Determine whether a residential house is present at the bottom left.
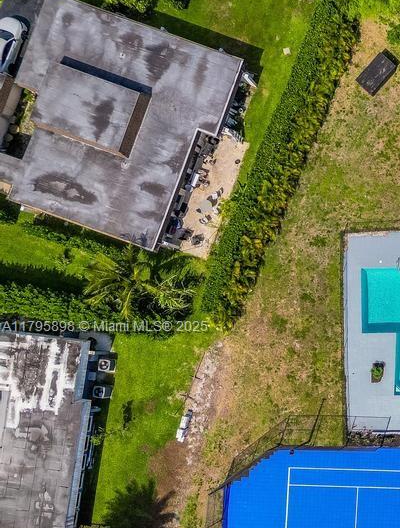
Yes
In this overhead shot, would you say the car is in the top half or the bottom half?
top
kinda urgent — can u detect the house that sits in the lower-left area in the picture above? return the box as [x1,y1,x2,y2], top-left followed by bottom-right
[0,334,99,528]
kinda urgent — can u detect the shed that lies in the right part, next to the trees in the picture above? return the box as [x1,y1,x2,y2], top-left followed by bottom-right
[357,53,396,97]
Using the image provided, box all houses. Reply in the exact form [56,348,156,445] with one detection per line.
[0,334,99,528]
[0,0,245,251]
